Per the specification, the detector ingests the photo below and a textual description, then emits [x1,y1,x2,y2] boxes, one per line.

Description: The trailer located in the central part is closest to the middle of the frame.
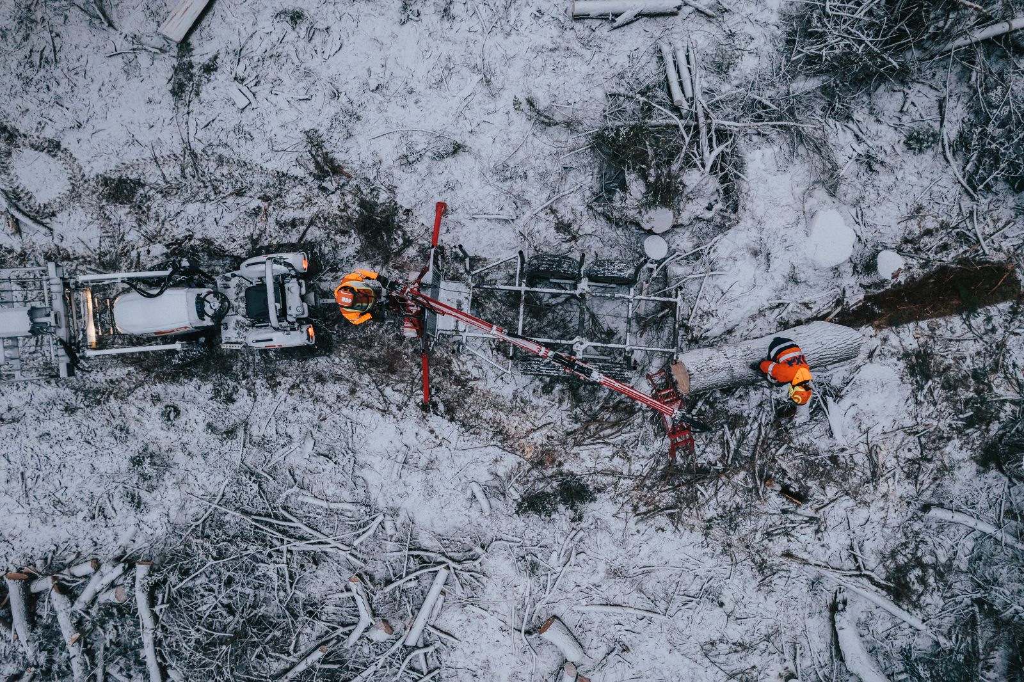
[372,243,686,381]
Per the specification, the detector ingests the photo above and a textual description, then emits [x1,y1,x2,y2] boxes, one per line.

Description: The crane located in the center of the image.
[384,196,713,431]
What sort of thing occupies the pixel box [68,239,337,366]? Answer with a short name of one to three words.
work vehicle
